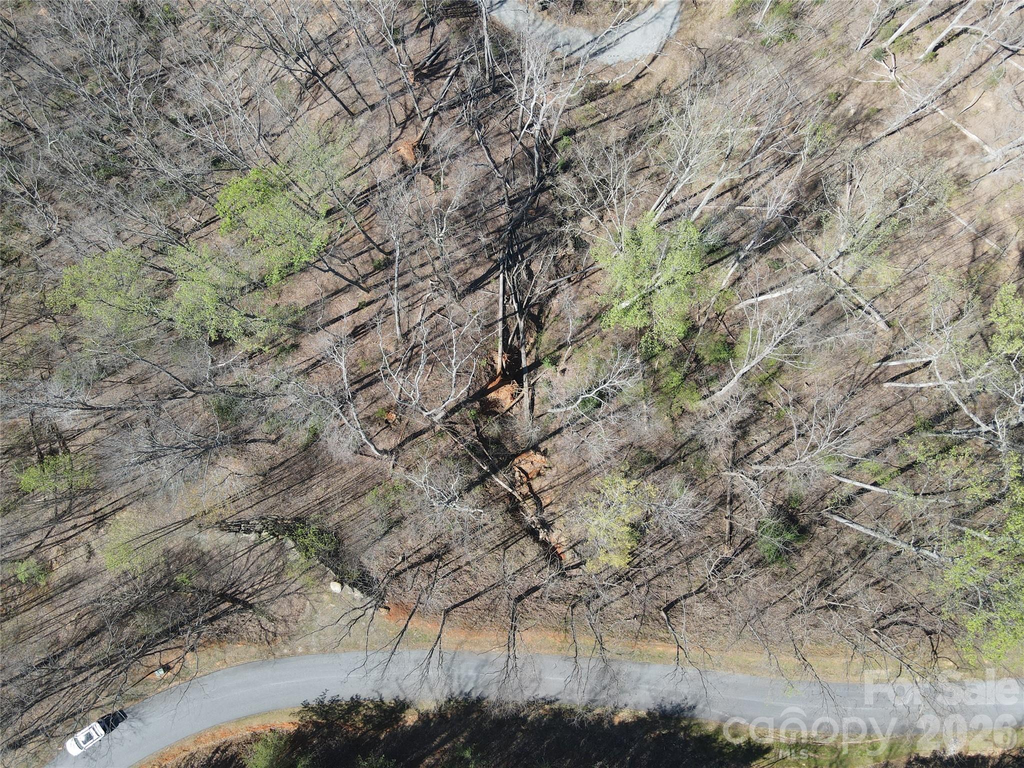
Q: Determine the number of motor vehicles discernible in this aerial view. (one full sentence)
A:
I count just 1 motor vehicle.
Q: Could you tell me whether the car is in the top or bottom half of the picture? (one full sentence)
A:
The car sits in the bottom half of the picture.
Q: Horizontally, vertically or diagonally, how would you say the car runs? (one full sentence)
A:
In this picture, the car lies diagonally.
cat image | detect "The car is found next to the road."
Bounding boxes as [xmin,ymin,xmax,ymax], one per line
[68,711,118,752]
